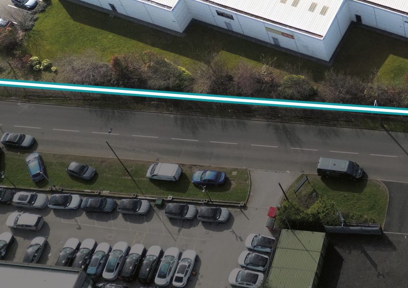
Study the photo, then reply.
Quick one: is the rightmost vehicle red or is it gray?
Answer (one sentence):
The rightmost vehicle looks gray in the image.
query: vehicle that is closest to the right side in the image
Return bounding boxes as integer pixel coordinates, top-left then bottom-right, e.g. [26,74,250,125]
[318,156,362,179]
